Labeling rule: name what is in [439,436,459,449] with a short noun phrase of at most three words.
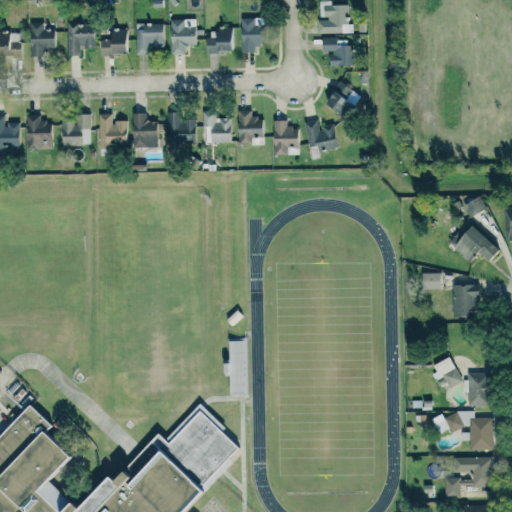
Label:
swimming pool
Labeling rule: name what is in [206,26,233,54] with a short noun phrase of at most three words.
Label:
house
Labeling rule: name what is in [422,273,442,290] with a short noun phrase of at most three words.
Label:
shed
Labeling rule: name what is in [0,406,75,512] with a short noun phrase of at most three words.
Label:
building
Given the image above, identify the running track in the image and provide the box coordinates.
[250,198,400,512]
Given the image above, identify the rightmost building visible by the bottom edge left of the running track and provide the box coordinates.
[61,404,242,512]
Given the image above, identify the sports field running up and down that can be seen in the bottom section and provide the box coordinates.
[264,212,387,512]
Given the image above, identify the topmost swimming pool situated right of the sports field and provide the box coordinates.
[453,386,466,406]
